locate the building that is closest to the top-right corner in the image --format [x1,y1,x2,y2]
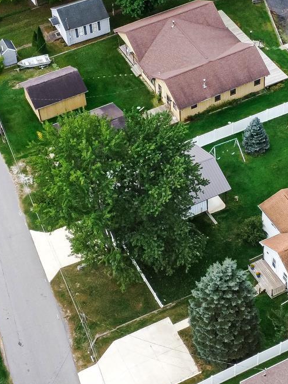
[113,2,275,121]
